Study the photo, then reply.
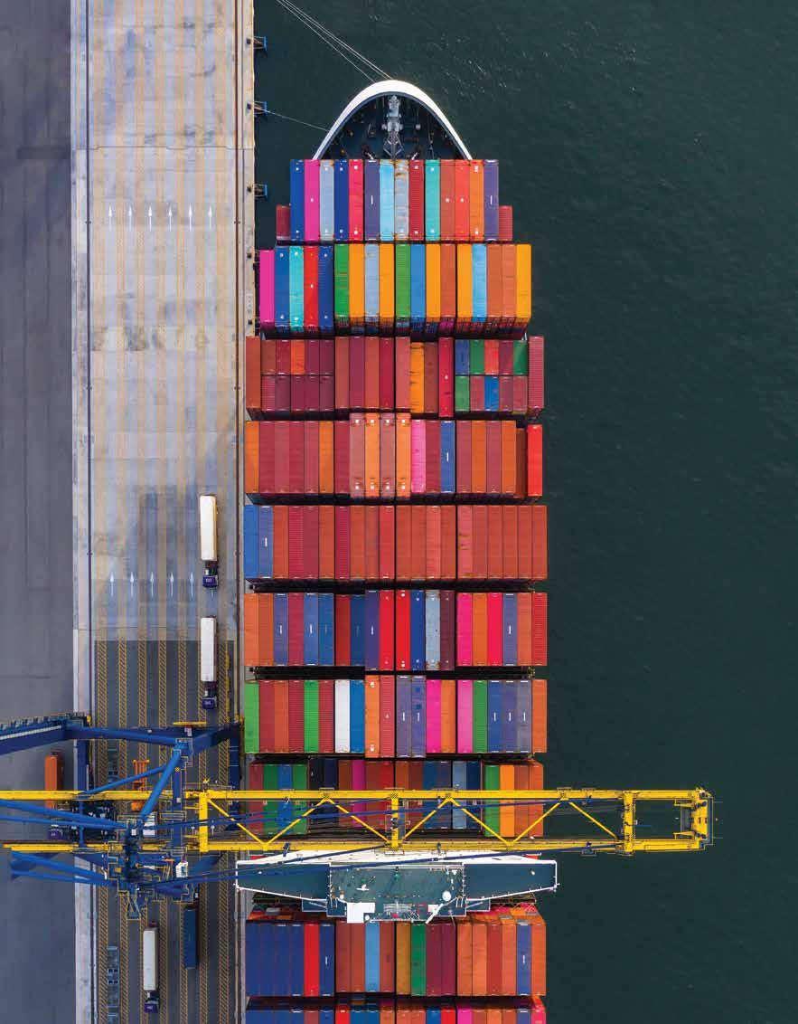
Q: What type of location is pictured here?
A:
port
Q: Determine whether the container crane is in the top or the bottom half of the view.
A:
bottom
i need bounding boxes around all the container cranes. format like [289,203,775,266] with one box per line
[0,700,717,917]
